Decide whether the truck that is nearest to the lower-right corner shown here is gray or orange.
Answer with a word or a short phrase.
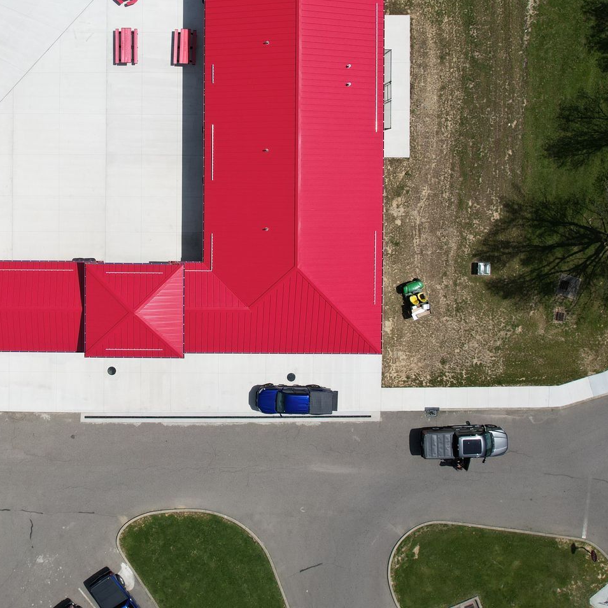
gray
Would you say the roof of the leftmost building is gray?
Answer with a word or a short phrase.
No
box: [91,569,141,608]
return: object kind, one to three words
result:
truck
